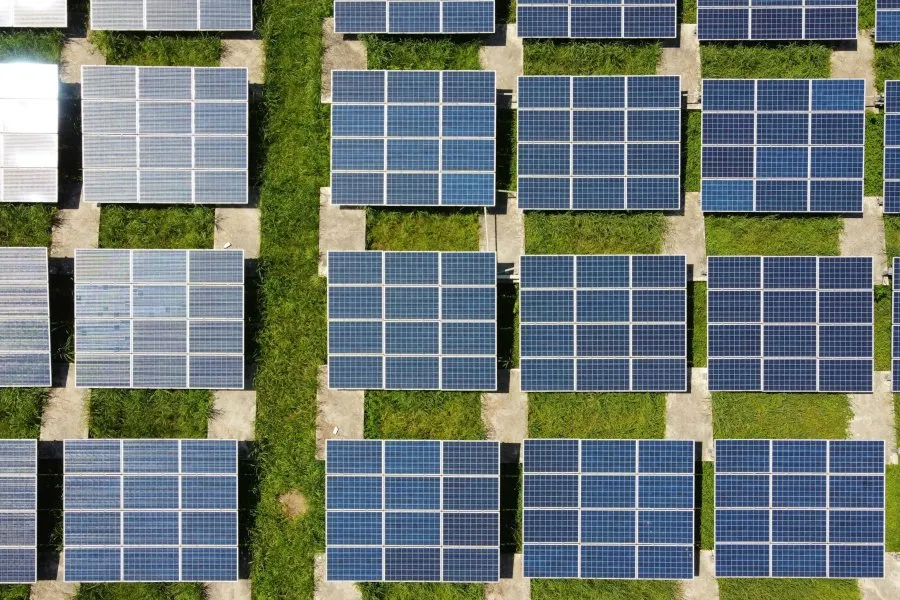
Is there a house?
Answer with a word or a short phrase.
No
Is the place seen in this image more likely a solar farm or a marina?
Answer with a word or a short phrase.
solar farm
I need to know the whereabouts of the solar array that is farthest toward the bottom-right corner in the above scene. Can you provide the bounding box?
[710,439,884,578]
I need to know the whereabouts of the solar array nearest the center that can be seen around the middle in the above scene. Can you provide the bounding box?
[328,252,497,389]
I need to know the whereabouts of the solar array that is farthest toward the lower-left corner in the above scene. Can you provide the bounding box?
[0,439,49,582]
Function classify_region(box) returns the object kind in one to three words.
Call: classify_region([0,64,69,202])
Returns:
solar array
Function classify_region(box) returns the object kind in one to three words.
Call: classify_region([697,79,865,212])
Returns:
solar array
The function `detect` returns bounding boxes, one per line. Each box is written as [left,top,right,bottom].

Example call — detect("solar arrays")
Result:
[334,0,495,33]
[871,81,900,213]
[516,0,676,39]
[326,440,500,582]
[710,439,884,578]
[0,64,69,202]
[82,66,251,204]
[701,257,873,392]
[91,0,253,31]
[518,76,680,209]
[0,439,49,582]
[520,256,687,391]
[63,439,243,582]
[328,252,497,389]
[75,249,248,388]
[330,70,496,206]
[694,0,857,40]
[0,248,60,387]
[0,0,73,27]
[697,79,865,212]
[867,0,900,42]
[880,257,900,392]
[523,439,694,578]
